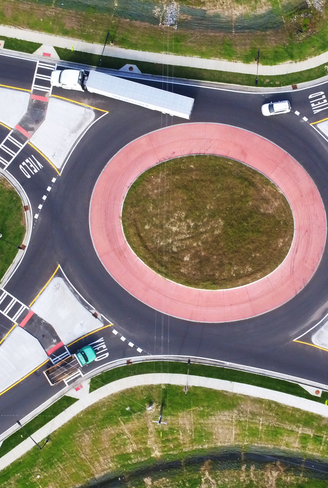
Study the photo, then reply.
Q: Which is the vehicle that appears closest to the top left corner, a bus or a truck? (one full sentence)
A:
It looks like the vehicle that appears closest to the top left corner is a truck.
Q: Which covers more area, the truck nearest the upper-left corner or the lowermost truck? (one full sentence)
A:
Of the two, the truck nearest the upper-left corner is bigger, while the lowermost truck is smaller.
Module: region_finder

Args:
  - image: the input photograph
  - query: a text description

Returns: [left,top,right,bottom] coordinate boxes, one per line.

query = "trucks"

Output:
[38,344,101,385]
[57,61,194,118]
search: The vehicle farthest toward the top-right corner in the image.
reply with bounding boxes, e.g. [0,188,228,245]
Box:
[260,101,292,117]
